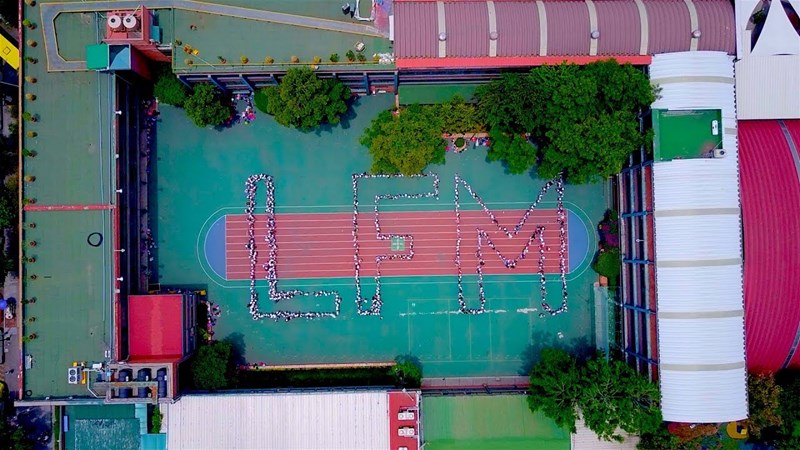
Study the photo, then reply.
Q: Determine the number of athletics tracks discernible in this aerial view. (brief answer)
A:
1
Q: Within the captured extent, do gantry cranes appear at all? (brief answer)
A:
No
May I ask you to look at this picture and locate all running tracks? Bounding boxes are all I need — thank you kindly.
[197,201,598,288]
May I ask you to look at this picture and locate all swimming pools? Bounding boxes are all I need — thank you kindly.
[69,402,147,450]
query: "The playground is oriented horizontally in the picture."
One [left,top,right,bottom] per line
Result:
[656,414,770,450]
